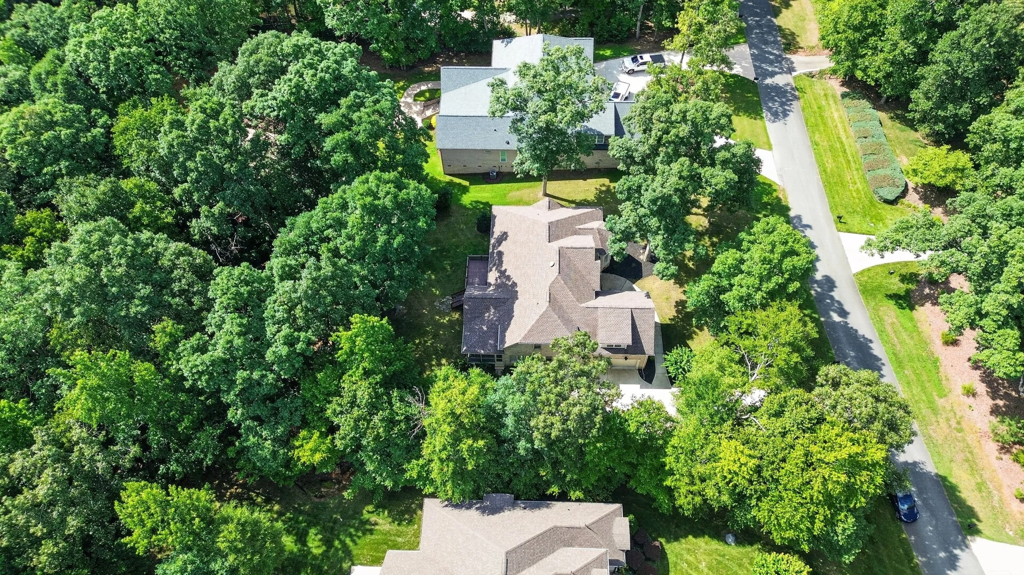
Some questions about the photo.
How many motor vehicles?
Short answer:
3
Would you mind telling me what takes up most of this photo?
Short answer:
trees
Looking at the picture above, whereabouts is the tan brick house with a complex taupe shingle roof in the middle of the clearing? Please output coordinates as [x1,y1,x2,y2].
[461,198,655,377]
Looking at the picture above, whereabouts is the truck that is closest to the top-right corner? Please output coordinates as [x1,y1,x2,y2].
[622,49,669,73]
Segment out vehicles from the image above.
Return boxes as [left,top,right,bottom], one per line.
[895,479,923,522]
[607,74,633,100]
[622,49,669,73]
